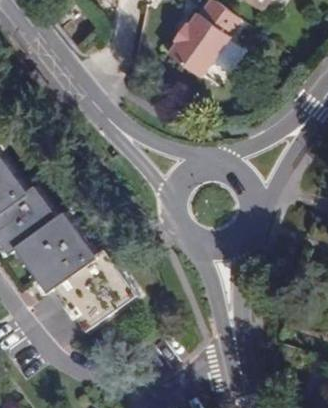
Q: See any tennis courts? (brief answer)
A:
No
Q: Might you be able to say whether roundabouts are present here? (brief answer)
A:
Yes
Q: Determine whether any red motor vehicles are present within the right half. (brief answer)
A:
No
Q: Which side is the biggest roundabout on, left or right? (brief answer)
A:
right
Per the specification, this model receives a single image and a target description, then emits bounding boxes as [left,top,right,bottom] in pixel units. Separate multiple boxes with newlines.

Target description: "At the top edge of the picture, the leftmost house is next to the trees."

[168,0,248,79]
